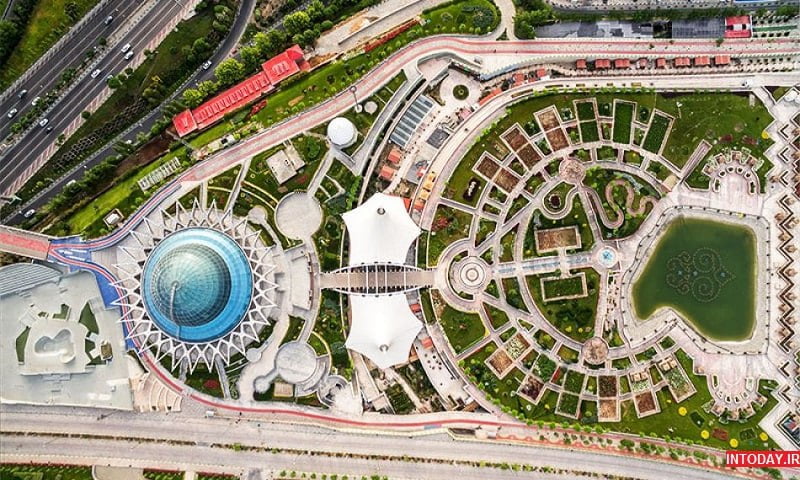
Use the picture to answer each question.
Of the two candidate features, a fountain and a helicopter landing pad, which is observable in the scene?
fountain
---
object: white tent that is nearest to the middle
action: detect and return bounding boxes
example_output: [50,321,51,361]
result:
[339,190,425,269]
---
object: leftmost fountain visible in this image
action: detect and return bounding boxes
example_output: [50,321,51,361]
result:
[591,242,622,272]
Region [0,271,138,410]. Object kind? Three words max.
building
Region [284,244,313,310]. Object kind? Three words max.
house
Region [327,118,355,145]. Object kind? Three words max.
building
